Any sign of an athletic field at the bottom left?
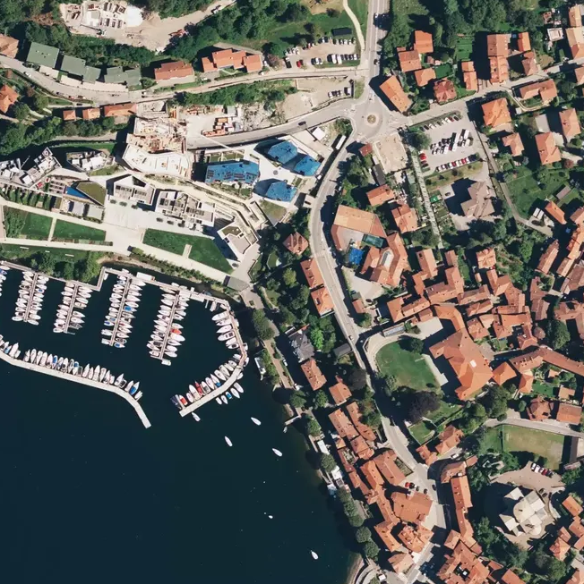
No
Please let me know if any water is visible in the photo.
Yes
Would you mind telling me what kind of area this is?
residential area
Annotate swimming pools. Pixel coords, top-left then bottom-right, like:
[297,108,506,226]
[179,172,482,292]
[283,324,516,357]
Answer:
[363,236,383,247]
[67,187,87,198]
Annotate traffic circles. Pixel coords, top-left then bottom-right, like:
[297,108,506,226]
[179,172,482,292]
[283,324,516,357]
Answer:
[351,99,392,138]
